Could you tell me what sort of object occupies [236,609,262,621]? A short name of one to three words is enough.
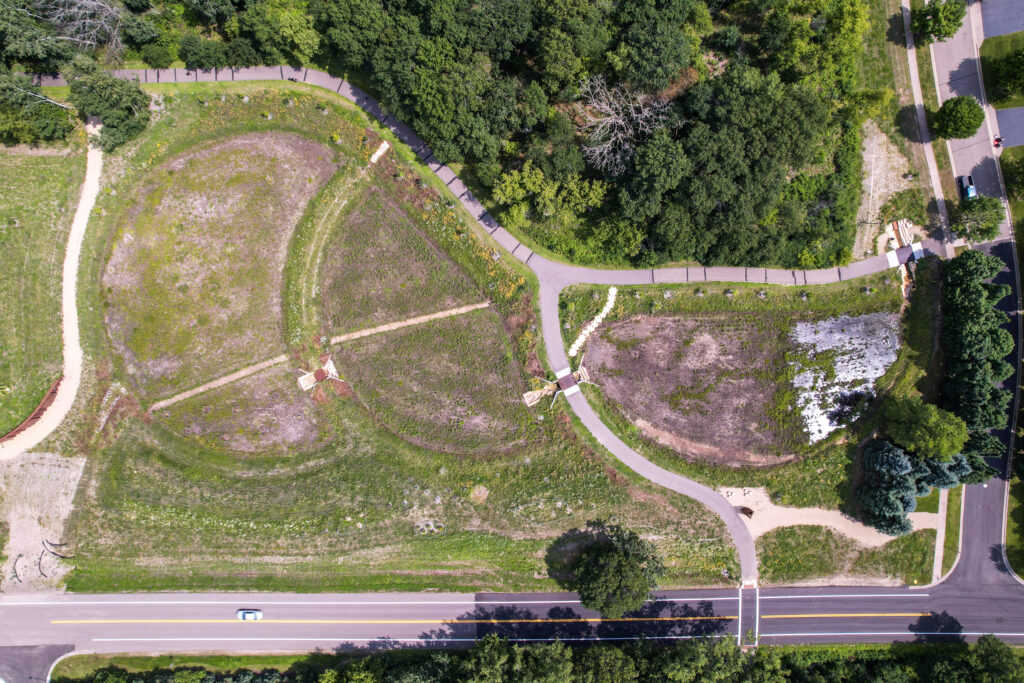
vehicle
